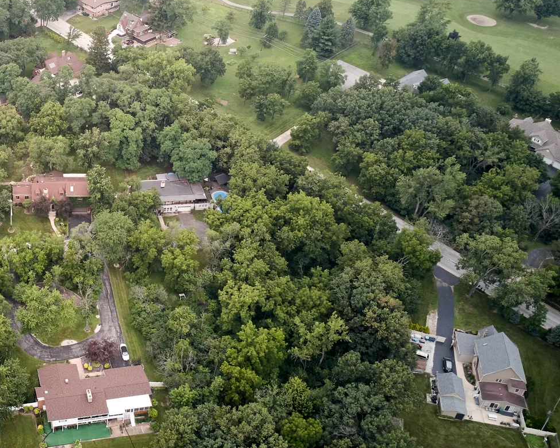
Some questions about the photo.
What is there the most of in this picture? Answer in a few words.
trees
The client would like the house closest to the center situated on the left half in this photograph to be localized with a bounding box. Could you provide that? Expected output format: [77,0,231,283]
[132,174,216,213]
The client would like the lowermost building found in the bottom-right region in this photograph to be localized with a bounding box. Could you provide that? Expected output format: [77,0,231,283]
[429,369,467,421]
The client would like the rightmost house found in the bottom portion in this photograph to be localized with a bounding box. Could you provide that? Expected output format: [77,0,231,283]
[449,316,528,412]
